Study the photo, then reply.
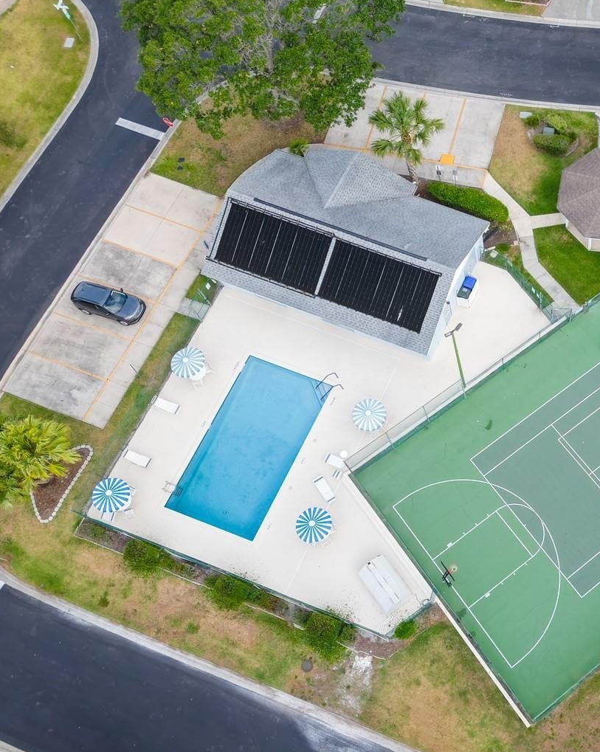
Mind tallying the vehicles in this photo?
one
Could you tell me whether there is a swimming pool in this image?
Yes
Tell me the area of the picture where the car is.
left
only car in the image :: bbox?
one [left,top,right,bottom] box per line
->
[68,285,144,329]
